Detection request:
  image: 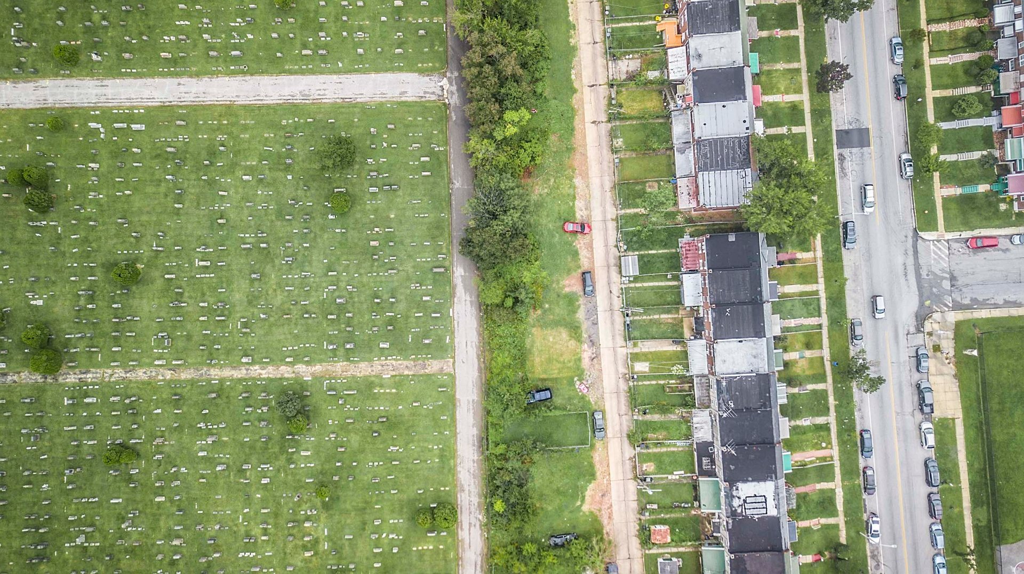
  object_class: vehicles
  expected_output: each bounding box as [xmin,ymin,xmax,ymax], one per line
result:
[897,151,913,181]
[913,345,929,375]
[870,294,886,321]
[561,221,591,235]
[888,36,904,66]
[891,74,907,101]
[928,520,944,551]
[525,387,555,404]
[861,465,876,495]
[592,409,606,439]
[841,220,857,249]
[581,269,596,298]
[923,457,939,487]
[917,420,934,450]
[865,513,881,542]
[849,316,864,346]
[916,380,933,414]
[966,236,999,250]
[931,551,947,574]
[858,428,873,458]
[859,184,876,213]
[925,490,943,521]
